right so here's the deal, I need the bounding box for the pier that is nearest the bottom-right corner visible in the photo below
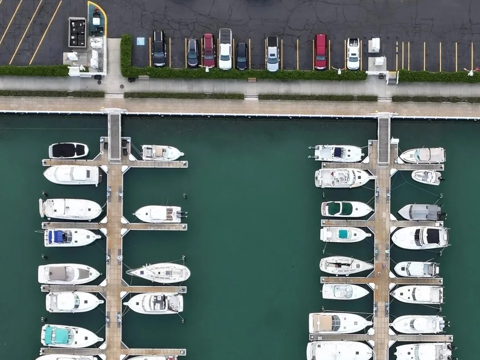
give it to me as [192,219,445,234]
[388,325,454,351]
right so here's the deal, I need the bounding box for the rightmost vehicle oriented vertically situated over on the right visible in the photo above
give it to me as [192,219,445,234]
[346,38,361,69]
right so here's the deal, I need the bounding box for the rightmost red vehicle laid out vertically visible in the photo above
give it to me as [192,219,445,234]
[314,34,328,69]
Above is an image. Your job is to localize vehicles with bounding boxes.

[235,42,249,70]
[314,34,328,69]
[346,38,361,69]
[202,34,216,68]
[186,38,200,67]
[218,28,233,69]
[266,36,280,70]
[152,31,166,67]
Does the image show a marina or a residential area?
marina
